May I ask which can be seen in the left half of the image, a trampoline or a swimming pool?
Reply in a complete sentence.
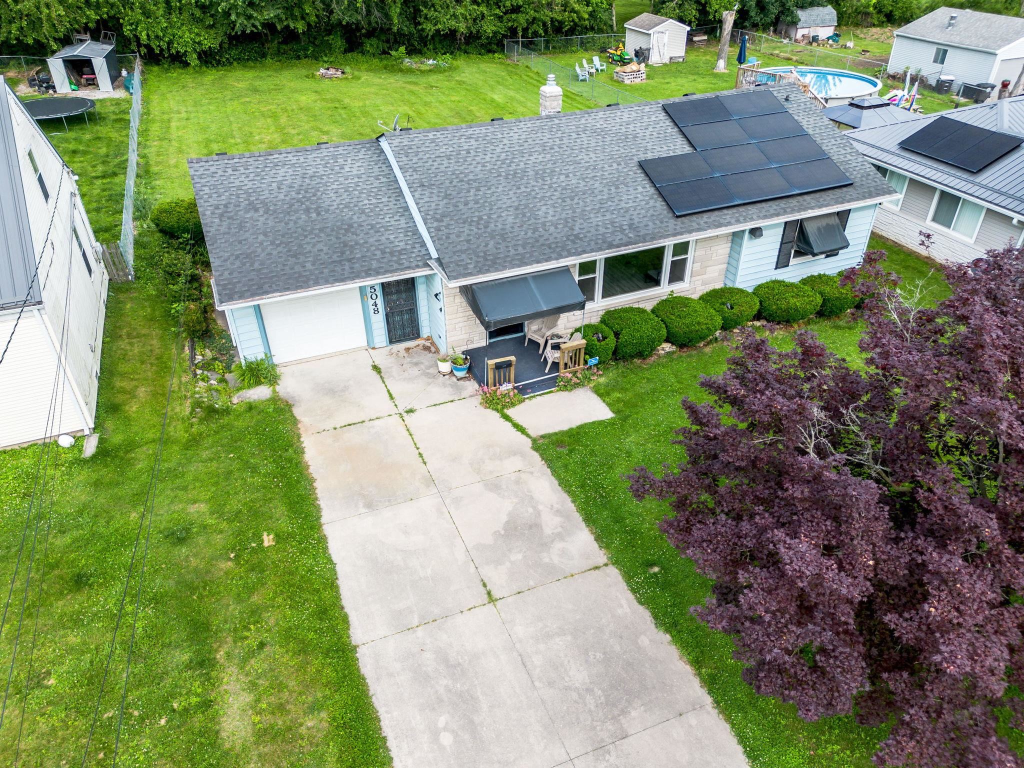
Visible in the left half of the image is a trampoline.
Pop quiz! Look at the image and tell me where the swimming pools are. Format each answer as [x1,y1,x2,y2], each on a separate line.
[747,64,885,107]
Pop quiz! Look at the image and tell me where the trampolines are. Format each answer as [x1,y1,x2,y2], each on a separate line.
[38,97,99,132]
